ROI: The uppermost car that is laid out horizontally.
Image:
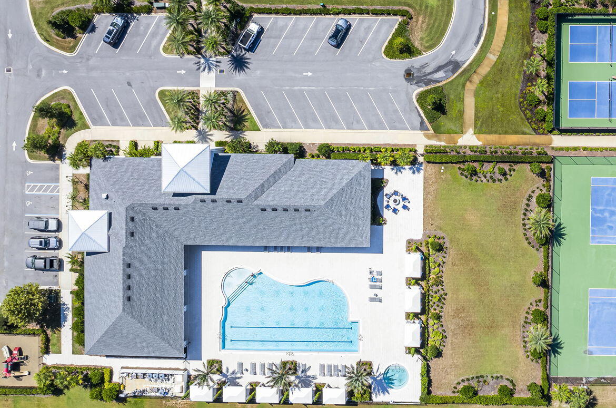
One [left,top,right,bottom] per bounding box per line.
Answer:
[27,217,62,232]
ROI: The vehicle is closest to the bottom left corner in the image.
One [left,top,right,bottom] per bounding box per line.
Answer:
[26,256,61,271]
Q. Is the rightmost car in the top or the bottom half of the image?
top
